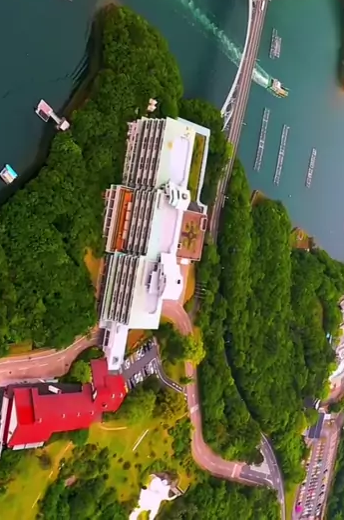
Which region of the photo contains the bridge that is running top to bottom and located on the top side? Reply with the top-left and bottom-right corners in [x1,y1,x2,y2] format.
[214,0,269,209]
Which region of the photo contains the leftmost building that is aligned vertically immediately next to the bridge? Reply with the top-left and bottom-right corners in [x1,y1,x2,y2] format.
[91,117,209,372]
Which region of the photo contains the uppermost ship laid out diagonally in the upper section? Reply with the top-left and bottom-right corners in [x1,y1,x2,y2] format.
[271,75,288,96]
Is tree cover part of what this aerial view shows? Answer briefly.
Yes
